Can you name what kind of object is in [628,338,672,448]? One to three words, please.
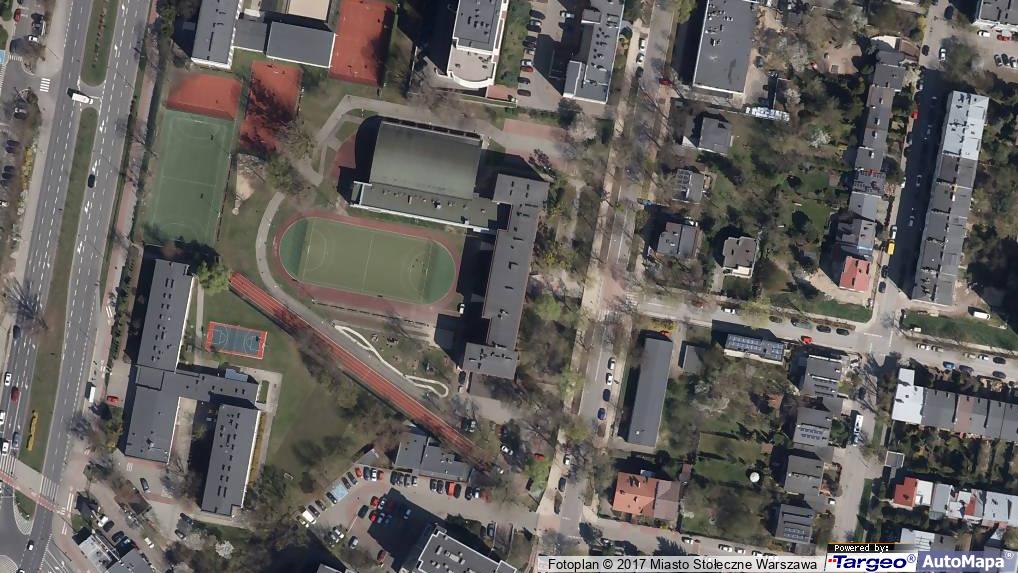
building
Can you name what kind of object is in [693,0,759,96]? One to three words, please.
building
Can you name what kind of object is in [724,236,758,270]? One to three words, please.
house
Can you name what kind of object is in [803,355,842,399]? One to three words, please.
house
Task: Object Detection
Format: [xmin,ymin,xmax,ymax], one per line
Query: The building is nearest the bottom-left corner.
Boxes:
[79,535,117,573]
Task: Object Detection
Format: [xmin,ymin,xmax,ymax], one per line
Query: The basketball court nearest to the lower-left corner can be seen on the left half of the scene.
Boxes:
[207,321,267,358]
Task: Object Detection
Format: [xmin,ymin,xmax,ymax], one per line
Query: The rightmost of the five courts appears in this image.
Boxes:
[329,0,397,87]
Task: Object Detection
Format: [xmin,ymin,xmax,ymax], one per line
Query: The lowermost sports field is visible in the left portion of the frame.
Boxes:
[295,220,437,302]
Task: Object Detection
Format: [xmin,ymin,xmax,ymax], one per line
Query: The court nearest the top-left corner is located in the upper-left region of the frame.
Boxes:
[167,73,241,119]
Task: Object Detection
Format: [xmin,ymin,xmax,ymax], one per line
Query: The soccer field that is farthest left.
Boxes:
[145,109,235,246]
